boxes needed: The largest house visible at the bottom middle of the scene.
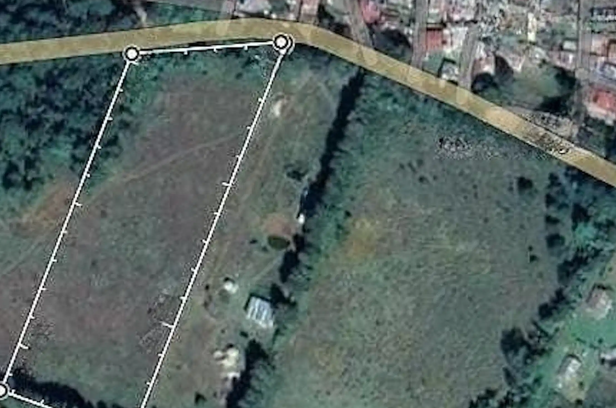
[247,297,275,327]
